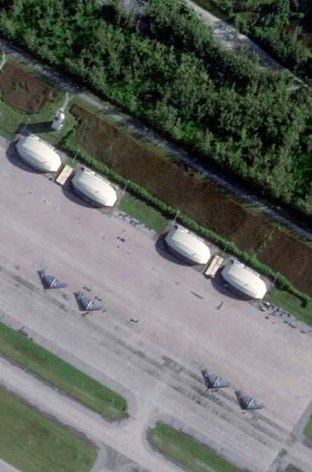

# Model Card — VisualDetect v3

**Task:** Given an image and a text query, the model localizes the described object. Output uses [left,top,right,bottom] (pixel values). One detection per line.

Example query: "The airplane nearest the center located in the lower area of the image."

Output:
[78,291,103,309]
